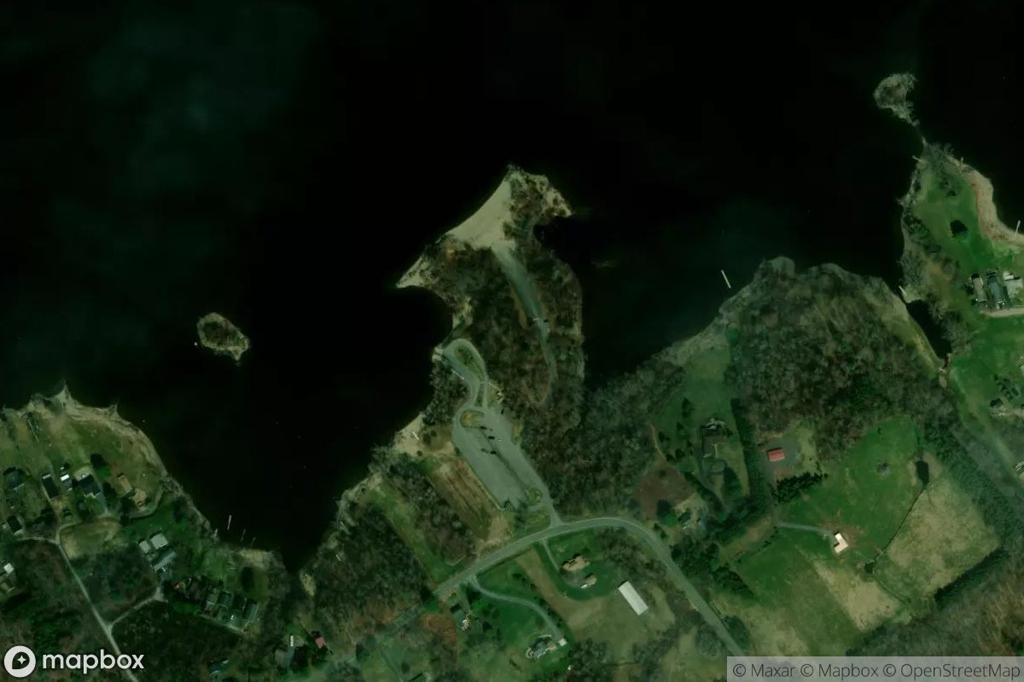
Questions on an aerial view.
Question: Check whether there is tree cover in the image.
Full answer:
Yes, the picture does contain tree cover.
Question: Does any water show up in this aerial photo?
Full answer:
Yes, some water is visible.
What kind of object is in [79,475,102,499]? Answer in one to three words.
house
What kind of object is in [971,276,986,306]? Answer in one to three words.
house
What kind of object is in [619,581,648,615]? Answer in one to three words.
barn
